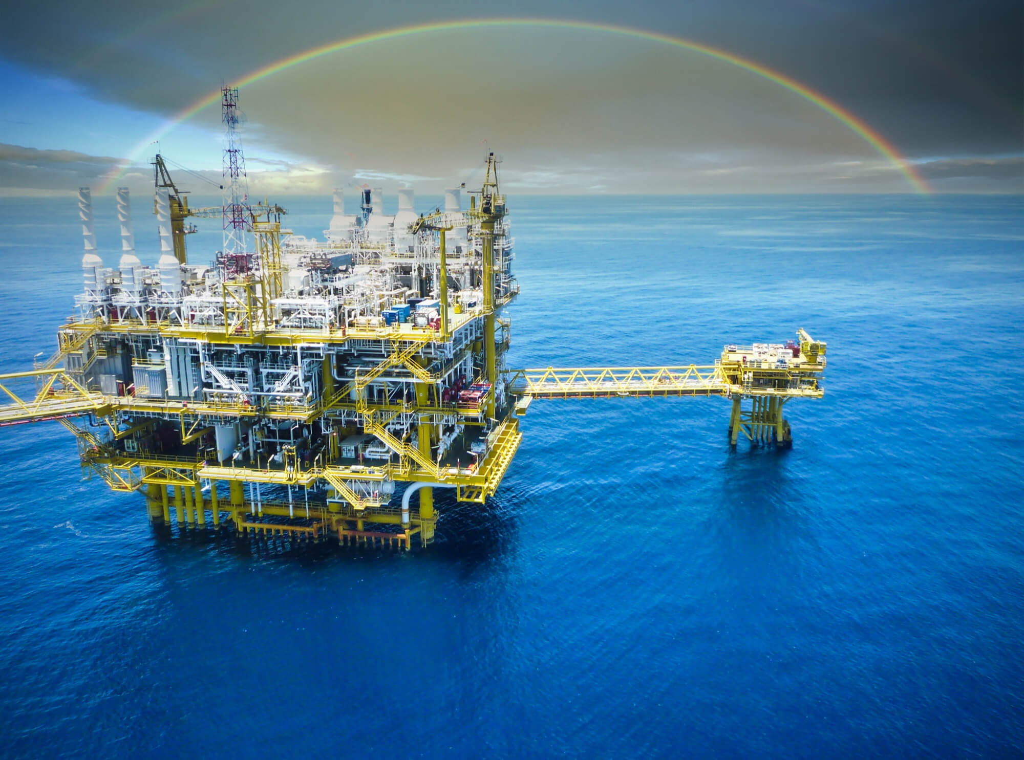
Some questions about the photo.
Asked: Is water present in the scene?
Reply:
Yes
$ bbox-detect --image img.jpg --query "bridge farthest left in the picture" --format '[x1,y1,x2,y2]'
[0,370,129,435]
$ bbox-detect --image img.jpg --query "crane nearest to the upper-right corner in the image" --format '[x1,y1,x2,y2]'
[792,329,833,362]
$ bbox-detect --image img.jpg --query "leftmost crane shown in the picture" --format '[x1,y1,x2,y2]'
[153,141,290,274]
